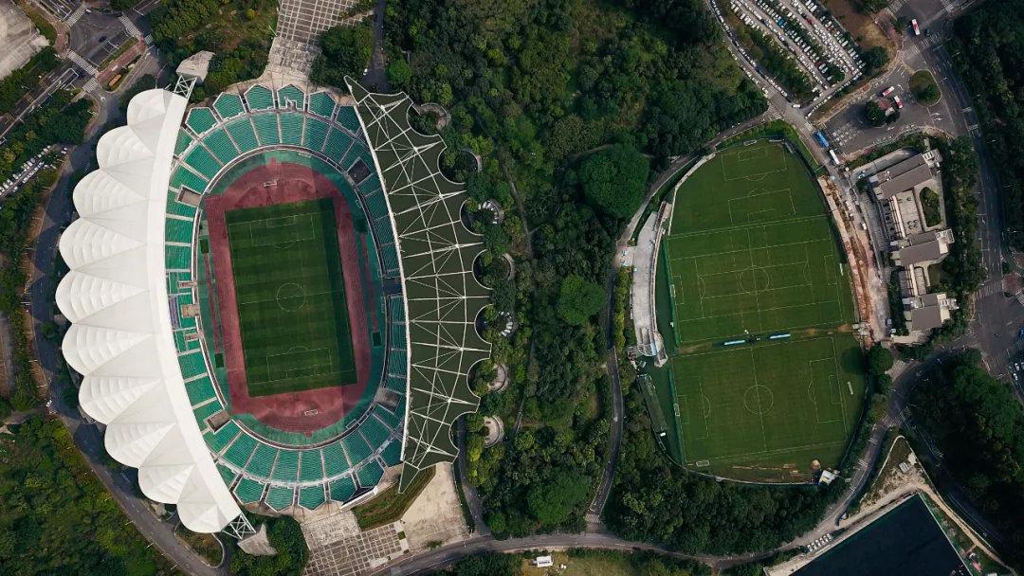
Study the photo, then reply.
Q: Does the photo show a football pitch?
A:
Yes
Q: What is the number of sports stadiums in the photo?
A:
1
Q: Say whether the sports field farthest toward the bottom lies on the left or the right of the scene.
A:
right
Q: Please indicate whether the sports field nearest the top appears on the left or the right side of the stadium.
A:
to the right of it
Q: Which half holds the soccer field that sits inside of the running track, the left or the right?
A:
left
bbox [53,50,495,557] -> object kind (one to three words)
stadium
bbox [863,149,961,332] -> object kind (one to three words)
building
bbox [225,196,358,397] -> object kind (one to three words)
soccer field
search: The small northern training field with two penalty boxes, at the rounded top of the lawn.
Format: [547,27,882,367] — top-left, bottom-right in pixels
[671,141,827,239]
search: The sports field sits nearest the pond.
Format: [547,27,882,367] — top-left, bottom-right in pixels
[671,335,849,464]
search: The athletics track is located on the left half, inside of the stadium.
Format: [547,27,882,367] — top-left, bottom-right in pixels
[196,149,384,444]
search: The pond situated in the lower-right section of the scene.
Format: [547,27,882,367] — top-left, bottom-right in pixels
[783,493,973,576]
